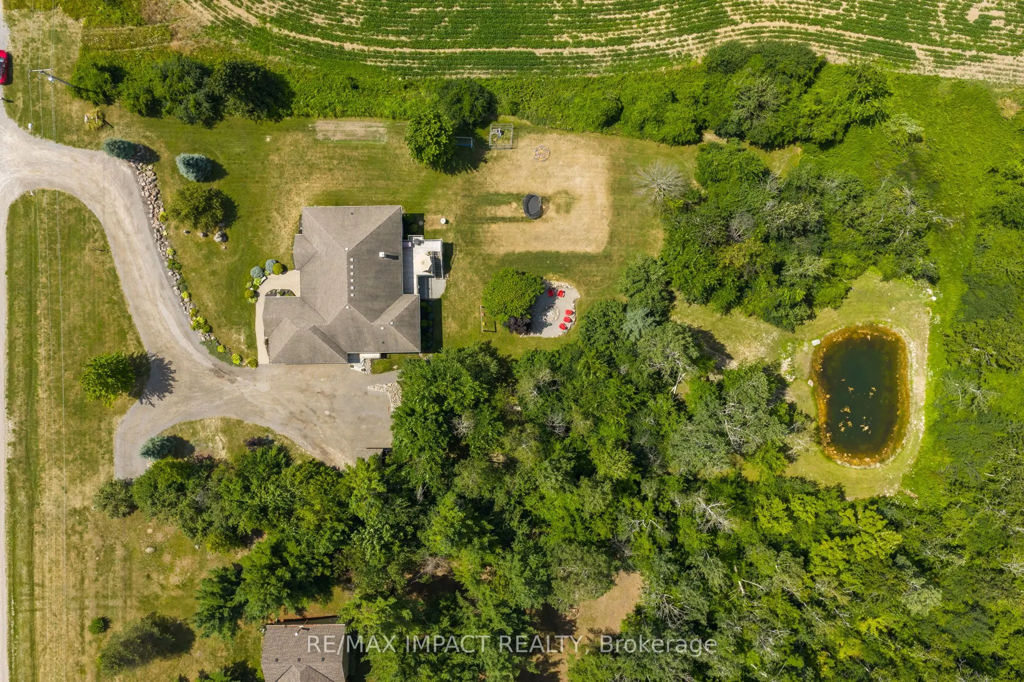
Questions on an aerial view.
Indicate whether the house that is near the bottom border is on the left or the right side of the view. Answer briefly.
left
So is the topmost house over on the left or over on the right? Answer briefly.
left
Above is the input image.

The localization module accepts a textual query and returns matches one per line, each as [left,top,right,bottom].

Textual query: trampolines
[523,190,543,219]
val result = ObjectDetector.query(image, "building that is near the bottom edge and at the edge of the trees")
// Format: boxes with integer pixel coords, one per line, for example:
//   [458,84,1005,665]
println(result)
[262,617,348,682]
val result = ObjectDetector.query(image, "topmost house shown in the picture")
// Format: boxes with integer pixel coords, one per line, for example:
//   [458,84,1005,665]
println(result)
[263,205,421,364]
